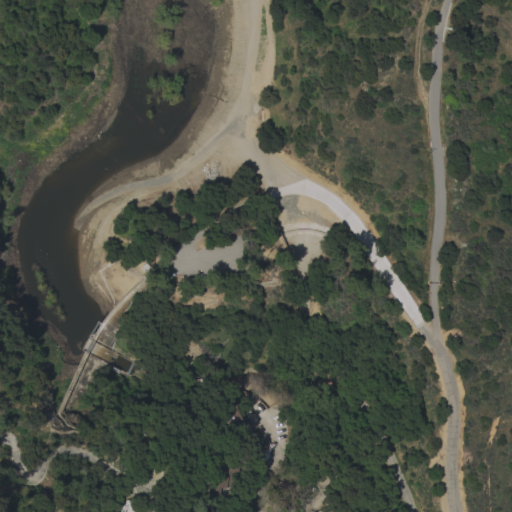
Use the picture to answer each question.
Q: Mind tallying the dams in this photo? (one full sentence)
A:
In total, 1 dam can be seen.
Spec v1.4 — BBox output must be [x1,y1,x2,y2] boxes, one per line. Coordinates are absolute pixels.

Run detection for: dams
[58,276,148,416]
